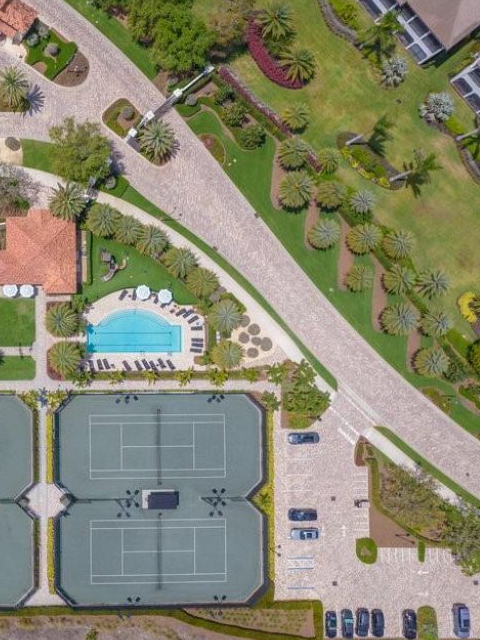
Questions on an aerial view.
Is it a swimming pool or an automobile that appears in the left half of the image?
swimming pool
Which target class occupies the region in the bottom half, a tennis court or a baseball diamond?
tennis court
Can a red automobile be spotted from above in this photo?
No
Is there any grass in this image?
Yes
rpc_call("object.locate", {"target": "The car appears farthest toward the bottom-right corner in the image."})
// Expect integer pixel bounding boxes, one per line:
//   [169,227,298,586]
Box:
[452,604,471,639]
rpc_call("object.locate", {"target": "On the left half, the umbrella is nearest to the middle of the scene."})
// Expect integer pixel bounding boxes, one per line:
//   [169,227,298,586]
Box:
[157,289,172,304]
